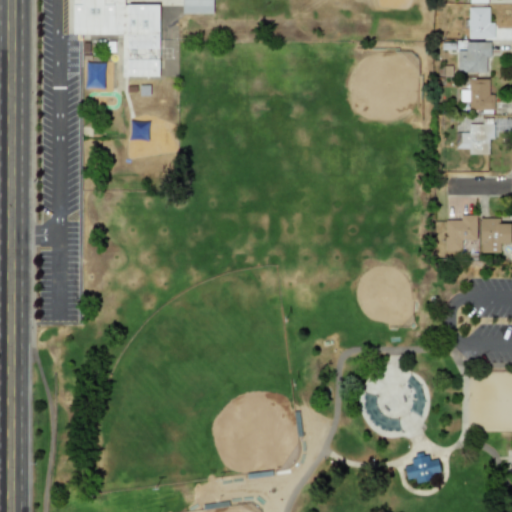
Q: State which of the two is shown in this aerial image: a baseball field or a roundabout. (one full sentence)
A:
The image shows a baseball field.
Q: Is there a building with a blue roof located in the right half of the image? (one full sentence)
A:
Yes, a building with a blue roof is visible in the right half of the image.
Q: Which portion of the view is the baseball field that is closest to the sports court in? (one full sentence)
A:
The baseball field that is closest to the sports court is located in the right region of the scene.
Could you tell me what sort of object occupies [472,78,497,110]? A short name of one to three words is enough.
house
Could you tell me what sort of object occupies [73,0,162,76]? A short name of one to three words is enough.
building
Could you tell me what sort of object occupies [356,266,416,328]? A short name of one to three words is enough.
baseball field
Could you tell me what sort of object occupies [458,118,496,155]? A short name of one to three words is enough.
house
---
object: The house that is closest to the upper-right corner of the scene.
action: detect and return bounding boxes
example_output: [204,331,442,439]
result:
[470,6,497,39]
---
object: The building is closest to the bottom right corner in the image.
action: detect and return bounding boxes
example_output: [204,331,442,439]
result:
[406,452,444,486]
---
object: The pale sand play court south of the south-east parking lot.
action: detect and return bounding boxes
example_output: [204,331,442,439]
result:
[469,372,512,432]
